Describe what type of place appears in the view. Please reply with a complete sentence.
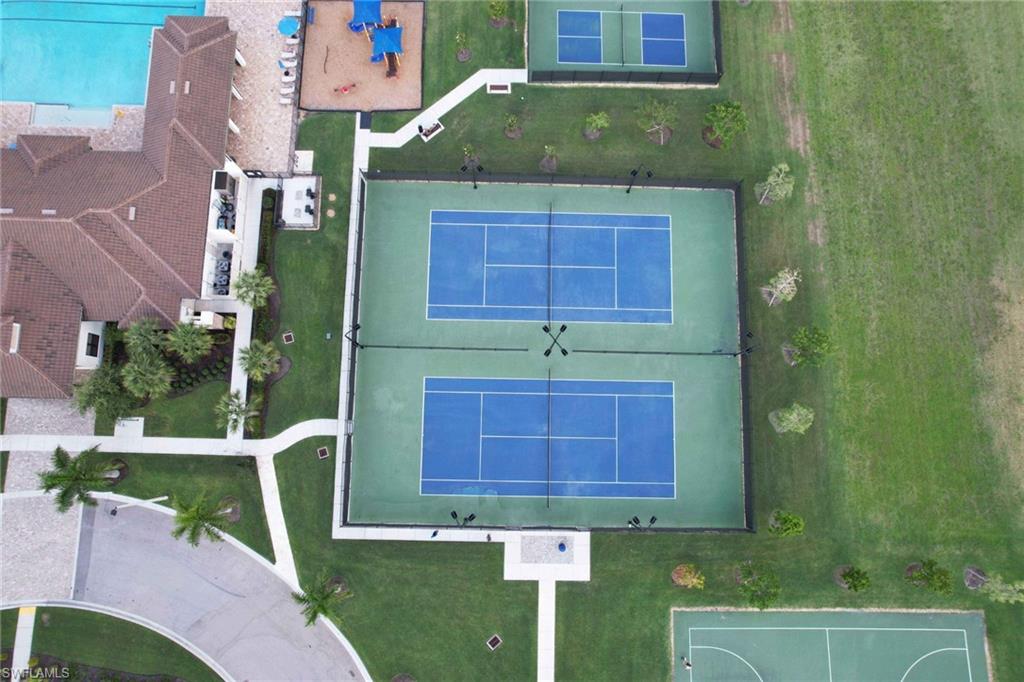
What you see here is a sports ground.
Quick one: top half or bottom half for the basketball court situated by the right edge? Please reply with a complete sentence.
Seen from above, the basketball court situated by the right edge lies in the bottom half of the view.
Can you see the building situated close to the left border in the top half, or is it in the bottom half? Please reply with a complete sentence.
You can find the building situated close to the left border in the top half.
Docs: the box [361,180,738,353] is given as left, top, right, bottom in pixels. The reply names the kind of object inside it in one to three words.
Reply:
tennis court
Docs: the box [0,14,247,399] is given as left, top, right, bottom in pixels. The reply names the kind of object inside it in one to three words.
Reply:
building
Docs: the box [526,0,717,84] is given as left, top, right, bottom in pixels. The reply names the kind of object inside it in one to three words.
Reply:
sports court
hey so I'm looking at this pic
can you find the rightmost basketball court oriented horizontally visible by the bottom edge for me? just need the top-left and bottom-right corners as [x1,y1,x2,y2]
[673,611,988,682]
